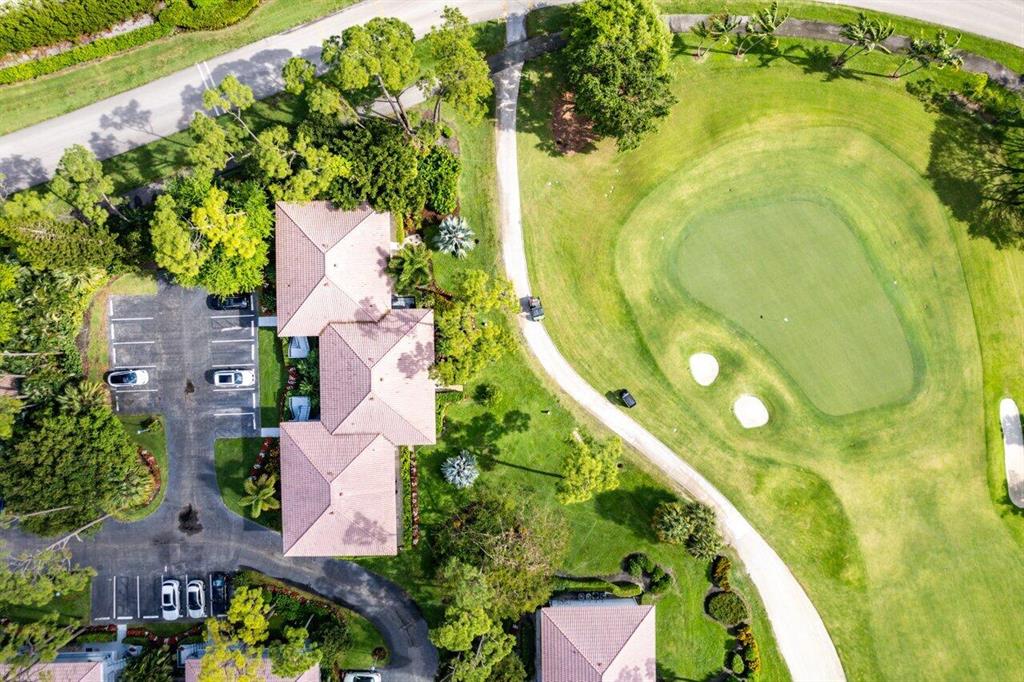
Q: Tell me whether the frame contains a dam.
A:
No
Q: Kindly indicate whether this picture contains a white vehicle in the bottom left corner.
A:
Yes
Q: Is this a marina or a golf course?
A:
golf course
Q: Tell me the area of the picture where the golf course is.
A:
right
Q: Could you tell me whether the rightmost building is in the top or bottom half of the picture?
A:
bottom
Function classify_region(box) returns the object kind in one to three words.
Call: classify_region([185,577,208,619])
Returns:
car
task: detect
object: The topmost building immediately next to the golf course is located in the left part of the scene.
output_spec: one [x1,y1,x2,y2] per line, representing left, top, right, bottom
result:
[276,200,436,557]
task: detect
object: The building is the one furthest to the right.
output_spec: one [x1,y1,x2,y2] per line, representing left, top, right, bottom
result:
[535,597,656,682]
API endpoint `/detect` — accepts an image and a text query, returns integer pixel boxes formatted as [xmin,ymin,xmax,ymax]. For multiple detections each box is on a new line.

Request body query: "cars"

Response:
[160,578,183,620]
[344,671,382,682]
[185,577,208,619]
[208,572,229,615]
[214,368,257,388]
[108,369,151,388]
[208,292,251,312]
